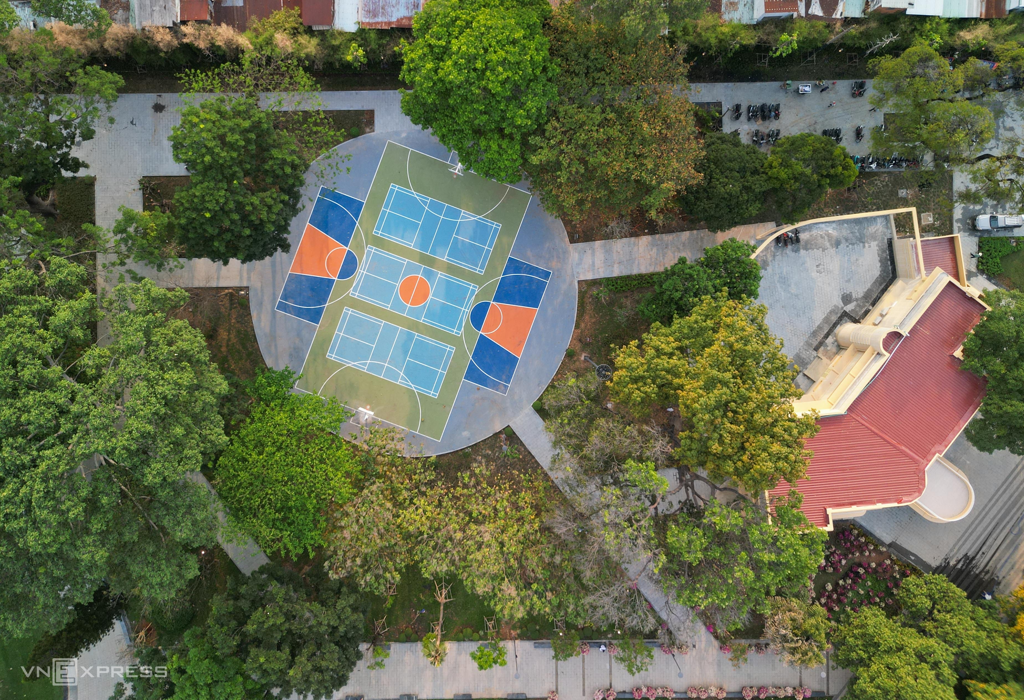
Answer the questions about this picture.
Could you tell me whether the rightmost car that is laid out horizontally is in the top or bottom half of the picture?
top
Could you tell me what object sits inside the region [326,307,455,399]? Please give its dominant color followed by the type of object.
blue sports court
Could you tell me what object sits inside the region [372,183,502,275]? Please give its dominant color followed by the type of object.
blue sports court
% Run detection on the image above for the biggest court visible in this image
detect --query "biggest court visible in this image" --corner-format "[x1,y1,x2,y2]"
[248,127,579,459]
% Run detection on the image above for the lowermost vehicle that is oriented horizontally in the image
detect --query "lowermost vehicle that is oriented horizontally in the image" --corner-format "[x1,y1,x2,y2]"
[970,211,1023,233]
